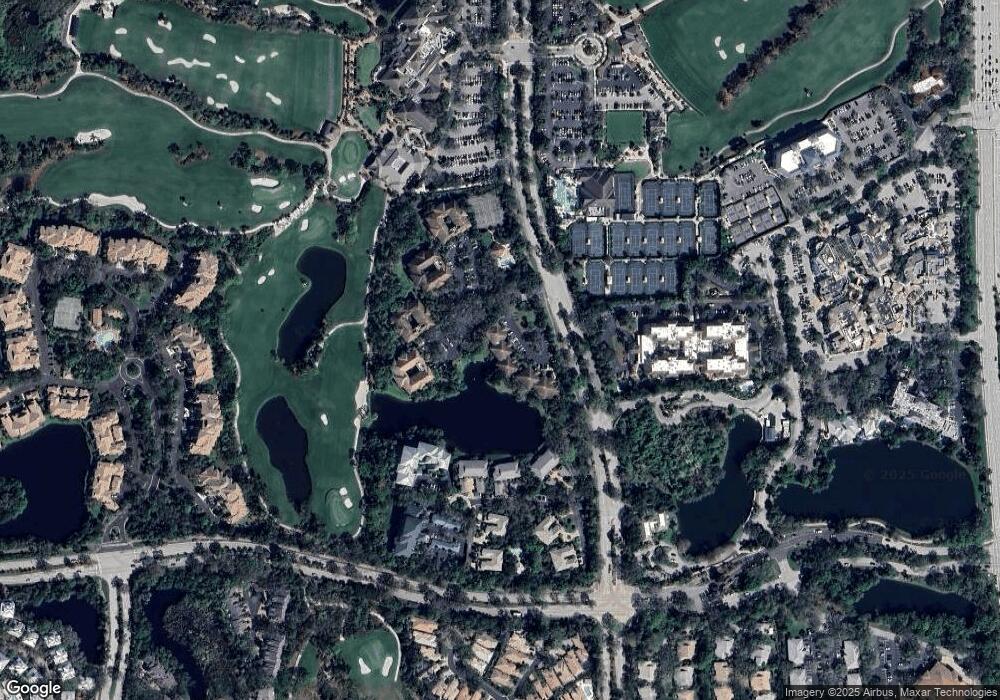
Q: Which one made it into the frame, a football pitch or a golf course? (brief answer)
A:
golf course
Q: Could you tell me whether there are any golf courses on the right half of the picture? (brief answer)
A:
Yes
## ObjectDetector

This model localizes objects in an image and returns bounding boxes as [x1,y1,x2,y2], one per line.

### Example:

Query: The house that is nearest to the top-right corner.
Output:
[911,76,945,95]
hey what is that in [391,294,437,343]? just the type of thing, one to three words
building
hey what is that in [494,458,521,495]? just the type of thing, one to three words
house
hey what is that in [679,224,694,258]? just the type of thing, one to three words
tennis court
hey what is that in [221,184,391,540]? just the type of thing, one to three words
golf course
